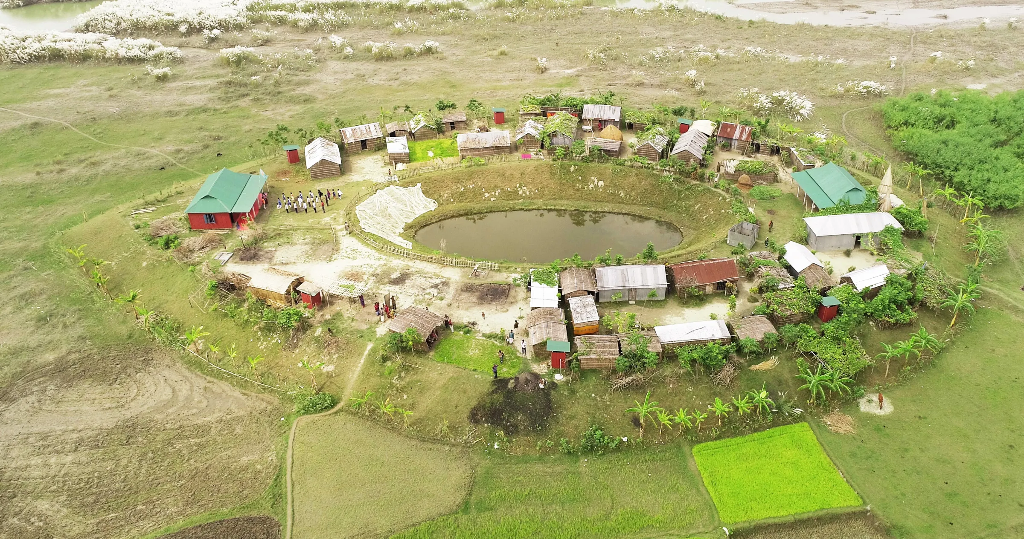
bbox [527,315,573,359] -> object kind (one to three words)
shed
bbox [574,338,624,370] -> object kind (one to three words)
shed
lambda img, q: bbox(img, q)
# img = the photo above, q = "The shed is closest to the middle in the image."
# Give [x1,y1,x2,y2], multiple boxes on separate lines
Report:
[523,276,564,314]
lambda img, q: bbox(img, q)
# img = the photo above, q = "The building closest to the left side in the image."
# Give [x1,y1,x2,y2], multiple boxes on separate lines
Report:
[183,165,267,229]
